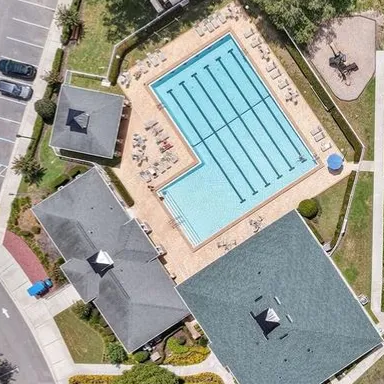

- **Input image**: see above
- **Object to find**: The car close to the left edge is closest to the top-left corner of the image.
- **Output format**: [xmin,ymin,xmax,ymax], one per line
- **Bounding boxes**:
[0,60,35,80]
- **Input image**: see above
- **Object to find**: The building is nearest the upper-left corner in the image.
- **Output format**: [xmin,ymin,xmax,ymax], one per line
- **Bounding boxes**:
[49,84,126,159]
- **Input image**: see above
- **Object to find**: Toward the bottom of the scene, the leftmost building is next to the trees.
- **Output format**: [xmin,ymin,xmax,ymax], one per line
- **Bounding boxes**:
[30,166,192,353]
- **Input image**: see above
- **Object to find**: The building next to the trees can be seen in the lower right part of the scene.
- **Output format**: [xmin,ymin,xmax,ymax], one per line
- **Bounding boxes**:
[175,209,384,384]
